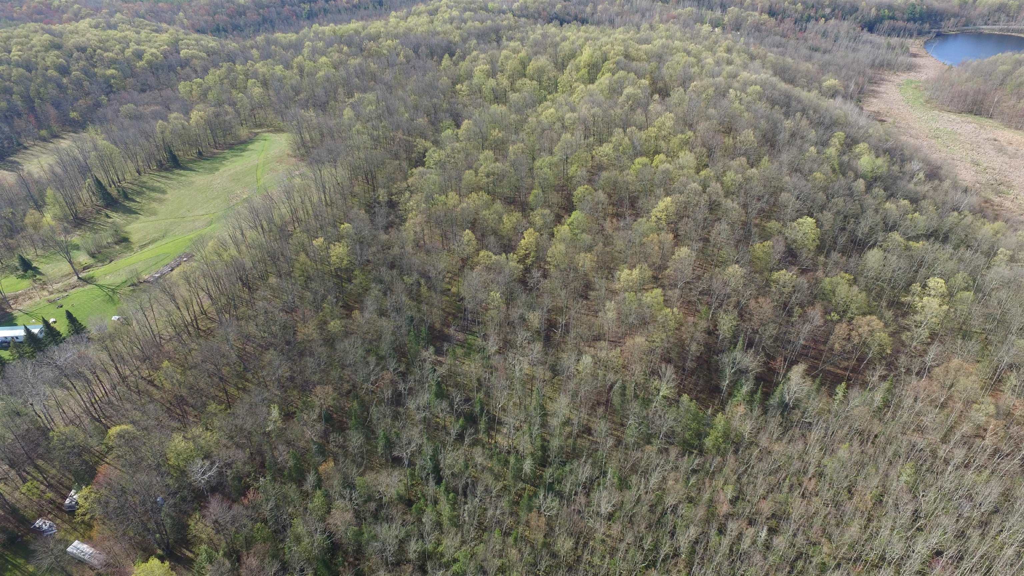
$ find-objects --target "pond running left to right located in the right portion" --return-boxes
[925,32,1024,79]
